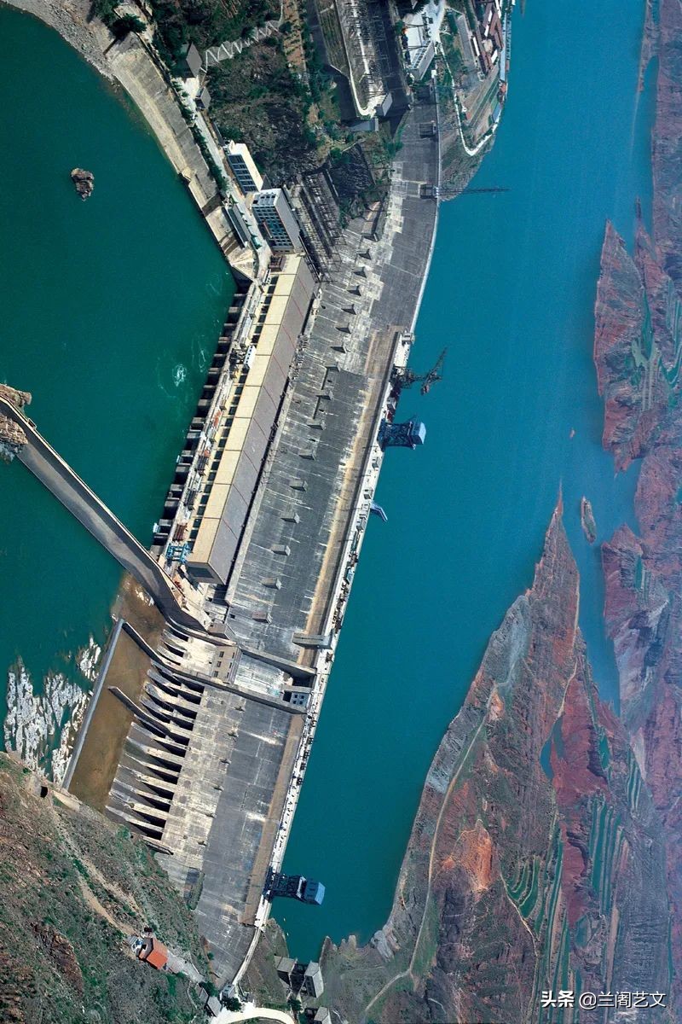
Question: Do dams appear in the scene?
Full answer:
Yes, the image includes a dam.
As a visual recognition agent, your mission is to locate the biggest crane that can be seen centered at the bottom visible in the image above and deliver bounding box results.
[267,853,327,895]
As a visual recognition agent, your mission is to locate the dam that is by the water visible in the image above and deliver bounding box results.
[101,72,441,984]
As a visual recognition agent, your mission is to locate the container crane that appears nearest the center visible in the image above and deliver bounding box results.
[370,413,417,448]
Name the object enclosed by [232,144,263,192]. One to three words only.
building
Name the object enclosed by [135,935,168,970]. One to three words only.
house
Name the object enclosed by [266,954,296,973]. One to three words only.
building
